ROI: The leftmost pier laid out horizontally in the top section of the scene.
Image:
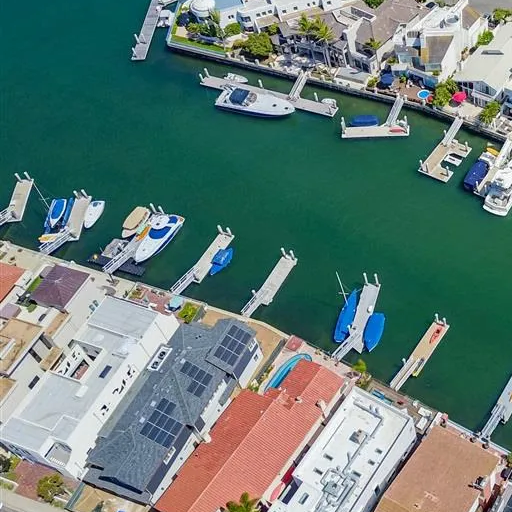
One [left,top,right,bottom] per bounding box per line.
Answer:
[199,68,337,119]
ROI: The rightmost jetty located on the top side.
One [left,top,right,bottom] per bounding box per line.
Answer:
[473,132,512,199]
